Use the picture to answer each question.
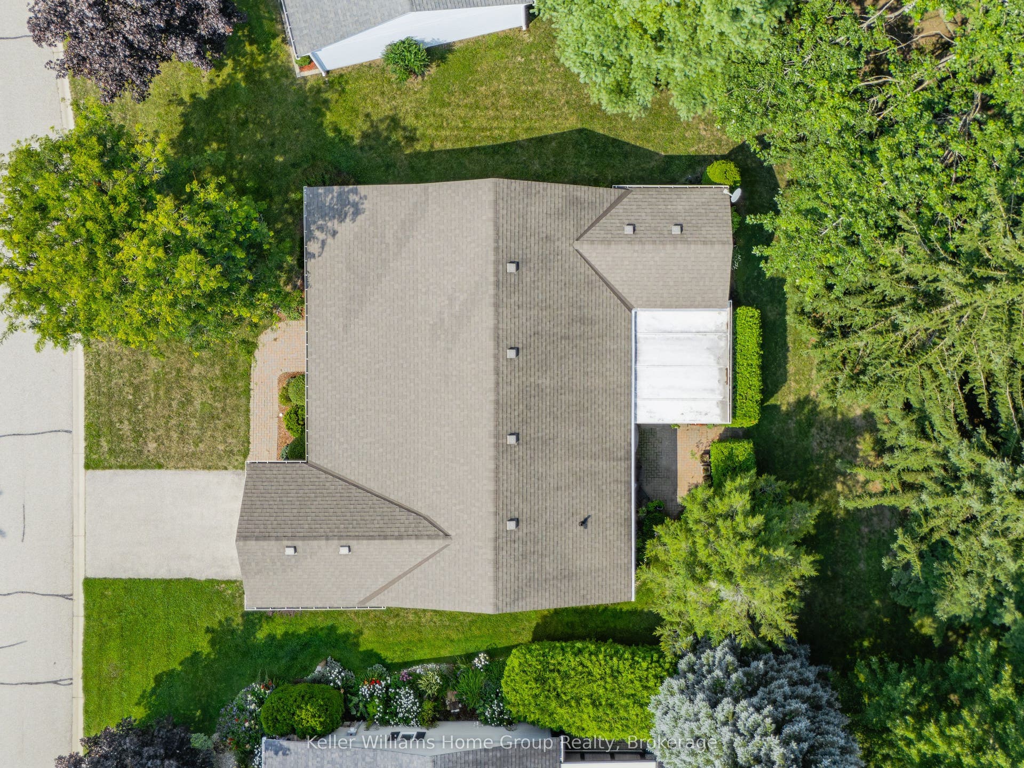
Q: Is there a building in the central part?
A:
Yes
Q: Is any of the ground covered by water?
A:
No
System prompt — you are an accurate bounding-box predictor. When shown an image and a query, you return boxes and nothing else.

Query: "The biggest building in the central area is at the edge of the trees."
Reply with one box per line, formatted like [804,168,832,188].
[238,178,734,614]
